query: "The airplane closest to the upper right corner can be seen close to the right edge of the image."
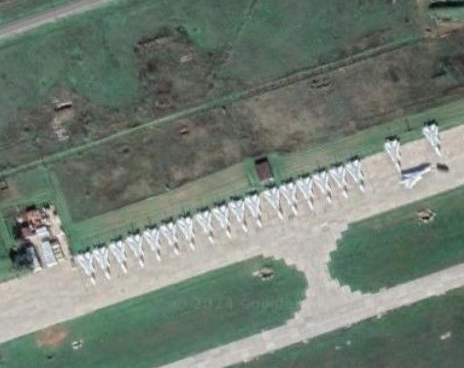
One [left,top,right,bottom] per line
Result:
[423,124,442,158]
